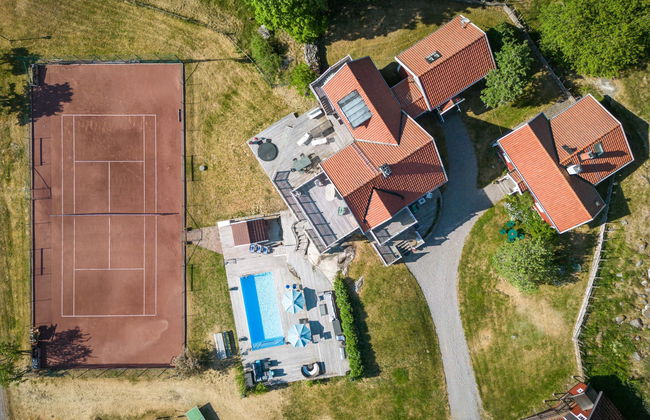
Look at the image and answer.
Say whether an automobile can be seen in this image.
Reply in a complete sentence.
No, the picture doesn't show any automobile.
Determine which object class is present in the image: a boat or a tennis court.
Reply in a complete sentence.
Visible in the photo is a tennis court.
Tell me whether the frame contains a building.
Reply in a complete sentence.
Yes, I can see a building in this picture.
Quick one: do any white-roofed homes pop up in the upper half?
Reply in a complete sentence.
No, there's no white-roofed home to be seen in the upper half.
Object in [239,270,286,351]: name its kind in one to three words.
swimming pool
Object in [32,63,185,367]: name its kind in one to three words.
tennis court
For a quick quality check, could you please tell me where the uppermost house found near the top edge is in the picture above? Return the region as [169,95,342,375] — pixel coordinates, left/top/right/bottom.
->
[392,14,496,124]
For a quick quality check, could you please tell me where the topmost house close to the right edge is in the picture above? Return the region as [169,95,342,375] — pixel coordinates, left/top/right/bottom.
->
[482,93,634,235]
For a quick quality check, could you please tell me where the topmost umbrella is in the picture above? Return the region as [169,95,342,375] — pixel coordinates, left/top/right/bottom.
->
[281,288,306,313]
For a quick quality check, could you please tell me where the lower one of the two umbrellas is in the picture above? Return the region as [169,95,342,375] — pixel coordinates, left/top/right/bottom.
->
[288,322,311,346]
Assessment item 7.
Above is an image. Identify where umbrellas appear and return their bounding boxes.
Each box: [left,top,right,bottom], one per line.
[288,322,311,346]
[281,288,306,313]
